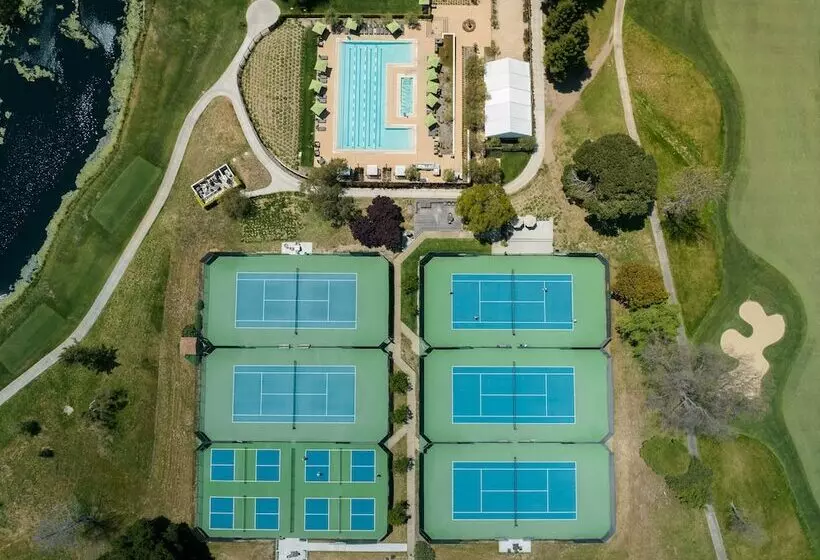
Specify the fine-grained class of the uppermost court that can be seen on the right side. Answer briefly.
tennis court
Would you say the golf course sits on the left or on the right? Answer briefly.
right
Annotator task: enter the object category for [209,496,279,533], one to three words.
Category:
sports court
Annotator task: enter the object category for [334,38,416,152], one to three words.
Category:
swimming pool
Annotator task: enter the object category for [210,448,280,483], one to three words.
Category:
sports court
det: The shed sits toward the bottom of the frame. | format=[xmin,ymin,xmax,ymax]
[180,338,200,355]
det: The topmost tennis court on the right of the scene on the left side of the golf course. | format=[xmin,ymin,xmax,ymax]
[420,255,607,348]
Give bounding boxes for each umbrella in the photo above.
[424,92,439,107]
[309,79,322,92]
[428,55,440,67]
[316,60,328,71]
[425,66,439,79]
[312,22,327,35]
[344,18,358,31]
[426,79,440,92]
[510,216,524,229]
[424,113,438,127]
[312,102,325,116]
[524,215,537,229]
[386,19,400,34]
